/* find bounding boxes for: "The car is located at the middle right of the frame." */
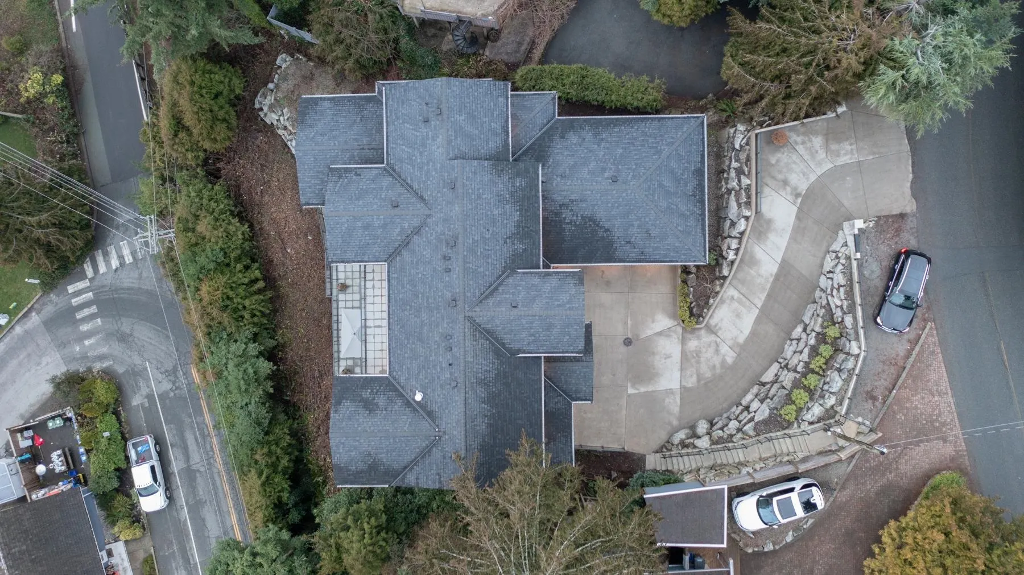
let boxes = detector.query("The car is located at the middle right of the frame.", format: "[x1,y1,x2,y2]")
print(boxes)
[872,248,934,335]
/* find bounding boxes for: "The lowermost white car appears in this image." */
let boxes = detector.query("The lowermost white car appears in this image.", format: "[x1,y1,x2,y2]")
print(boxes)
[731,475,825,531]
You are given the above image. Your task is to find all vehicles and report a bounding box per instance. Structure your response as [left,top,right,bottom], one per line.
[123,432,172,510]
[731,475,825,531]
[872,248,934,335]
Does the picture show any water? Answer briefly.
No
